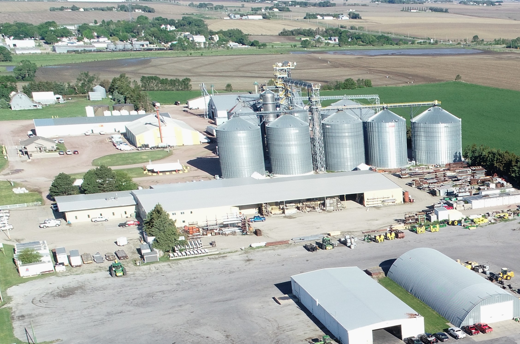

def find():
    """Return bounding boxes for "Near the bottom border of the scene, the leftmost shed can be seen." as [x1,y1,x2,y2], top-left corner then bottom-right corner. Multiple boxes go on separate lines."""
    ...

[291,265,425,344]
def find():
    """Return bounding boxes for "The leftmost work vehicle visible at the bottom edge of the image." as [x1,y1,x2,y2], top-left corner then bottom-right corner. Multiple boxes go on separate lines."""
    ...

[310,332,334,344]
